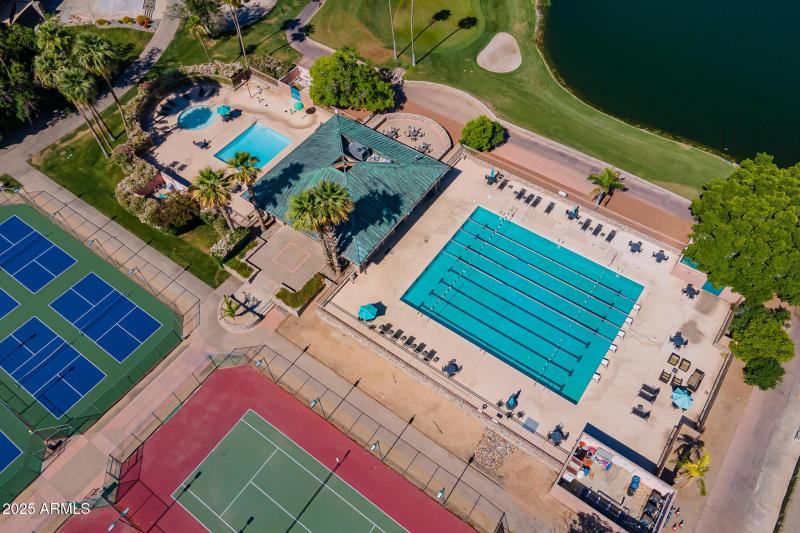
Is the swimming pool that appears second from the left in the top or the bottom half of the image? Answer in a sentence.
Seen from above, the swimming pool that appears second from the left lies in the top half of the view.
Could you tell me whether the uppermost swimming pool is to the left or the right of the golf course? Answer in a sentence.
The uppermost swimming pool can be seen on the left of the golf course.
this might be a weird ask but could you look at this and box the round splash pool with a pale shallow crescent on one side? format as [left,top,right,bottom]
[175,106,217,130]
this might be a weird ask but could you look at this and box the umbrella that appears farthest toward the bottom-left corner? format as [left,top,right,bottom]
[359,299,382,320]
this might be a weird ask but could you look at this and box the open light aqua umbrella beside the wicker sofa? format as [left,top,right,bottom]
[672,385,698,409]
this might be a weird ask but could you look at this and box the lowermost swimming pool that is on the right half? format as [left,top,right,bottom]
[398,205,647,407]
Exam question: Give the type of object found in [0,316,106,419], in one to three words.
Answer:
sports court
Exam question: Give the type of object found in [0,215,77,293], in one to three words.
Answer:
sports court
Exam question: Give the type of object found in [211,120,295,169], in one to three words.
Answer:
swimming pool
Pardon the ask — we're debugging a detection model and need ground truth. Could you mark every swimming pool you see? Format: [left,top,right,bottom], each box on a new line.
[398,205,647,407]
[175,106,217,130]
[211,120,295,169]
